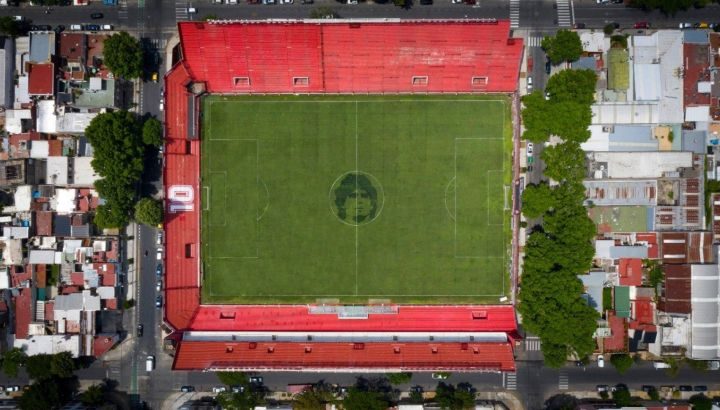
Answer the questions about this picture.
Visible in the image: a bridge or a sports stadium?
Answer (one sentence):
The image shows a sports stadium.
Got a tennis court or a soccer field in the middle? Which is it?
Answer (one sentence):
There is a soccer field in the middle.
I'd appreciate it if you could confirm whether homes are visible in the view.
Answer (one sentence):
Yes, a home is visible in the scene.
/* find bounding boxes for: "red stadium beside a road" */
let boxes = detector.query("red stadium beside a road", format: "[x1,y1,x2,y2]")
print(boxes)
[163,17,525,371]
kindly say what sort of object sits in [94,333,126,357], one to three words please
house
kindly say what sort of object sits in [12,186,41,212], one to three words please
house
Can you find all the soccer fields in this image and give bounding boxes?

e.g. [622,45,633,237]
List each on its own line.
[198,92,513,305]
